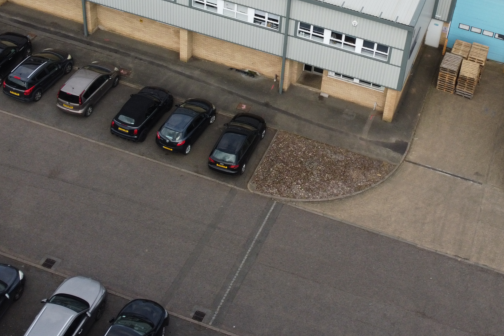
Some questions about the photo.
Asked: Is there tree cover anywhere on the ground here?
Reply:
No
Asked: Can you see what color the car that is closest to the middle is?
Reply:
black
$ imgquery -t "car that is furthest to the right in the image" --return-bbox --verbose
[204,113,267,177]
